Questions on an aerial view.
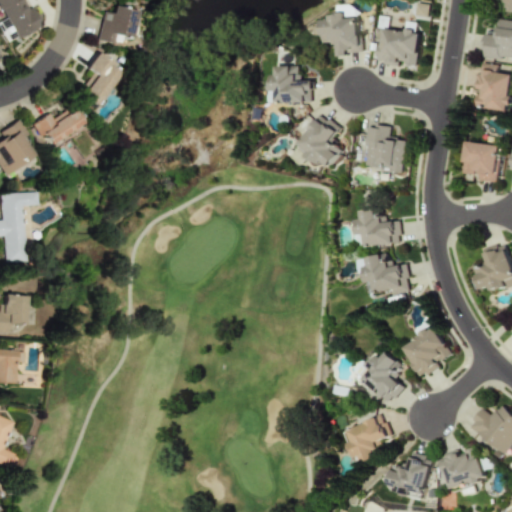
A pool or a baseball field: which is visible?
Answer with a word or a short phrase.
pool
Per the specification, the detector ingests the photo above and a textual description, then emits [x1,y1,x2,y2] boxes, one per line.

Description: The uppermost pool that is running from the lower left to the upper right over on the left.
[99,94,122,118]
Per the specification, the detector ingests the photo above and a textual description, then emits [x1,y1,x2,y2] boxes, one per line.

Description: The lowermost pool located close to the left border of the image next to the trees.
[25,347,39,372]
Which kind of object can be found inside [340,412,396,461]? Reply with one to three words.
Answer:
house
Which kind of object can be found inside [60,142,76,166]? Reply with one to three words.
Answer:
swimming pool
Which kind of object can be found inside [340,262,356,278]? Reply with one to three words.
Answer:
swimming pool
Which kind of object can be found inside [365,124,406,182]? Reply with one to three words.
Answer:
house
